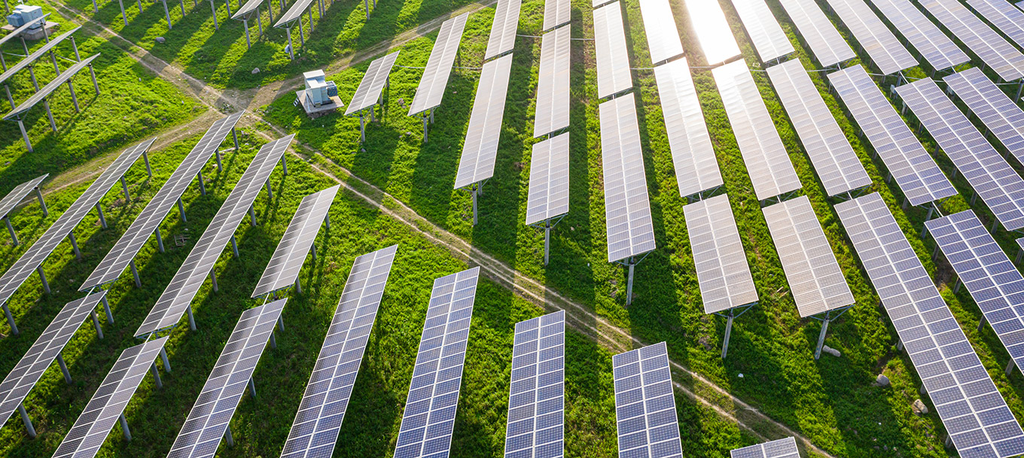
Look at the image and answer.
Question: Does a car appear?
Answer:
No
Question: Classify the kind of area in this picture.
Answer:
solar farm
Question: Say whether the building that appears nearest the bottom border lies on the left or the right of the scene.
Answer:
left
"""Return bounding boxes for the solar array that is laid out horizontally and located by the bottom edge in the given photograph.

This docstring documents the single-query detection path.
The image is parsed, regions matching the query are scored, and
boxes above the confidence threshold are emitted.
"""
[730,437,800,458]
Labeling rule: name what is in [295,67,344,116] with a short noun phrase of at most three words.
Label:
building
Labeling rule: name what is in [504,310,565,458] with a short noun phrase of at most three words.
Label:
solar array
